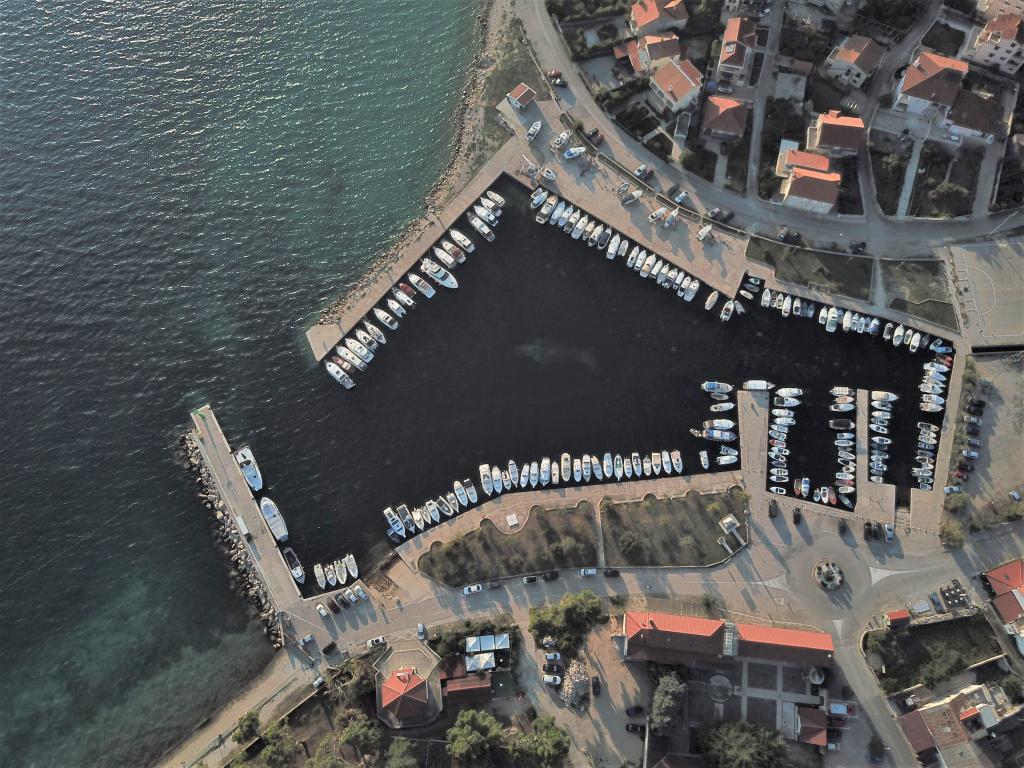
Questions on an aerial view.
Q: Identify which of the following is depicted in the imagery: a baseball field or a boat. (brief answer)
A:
boat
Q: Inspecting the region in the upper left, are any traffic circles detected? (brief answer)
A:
No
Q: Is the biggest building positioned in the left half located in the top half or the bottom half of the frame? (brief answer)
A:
bottom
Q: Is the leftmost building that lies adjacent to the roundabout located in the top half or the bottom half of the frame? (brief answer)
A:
bottom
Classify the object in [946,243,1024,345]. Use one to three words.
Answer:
sports court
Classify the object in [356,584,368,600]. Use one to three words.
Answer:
vehicle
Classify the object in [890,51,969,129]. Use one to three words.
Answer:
house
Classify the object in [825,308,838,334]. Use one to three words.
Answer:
boat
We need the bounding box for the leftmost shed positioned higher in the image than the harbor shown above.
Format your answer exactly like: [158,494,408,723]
[509,82,537,107]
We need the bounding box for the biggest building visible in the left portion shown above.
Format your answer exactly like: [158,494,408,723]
[373,640,443,729]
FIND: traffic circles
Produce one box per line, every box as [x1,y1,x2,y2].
[754,530,905,638]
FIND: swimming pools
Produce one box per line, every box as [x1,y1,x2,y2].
[584,28,600,48]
